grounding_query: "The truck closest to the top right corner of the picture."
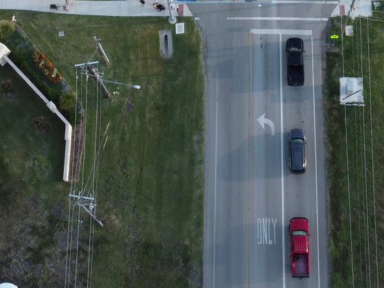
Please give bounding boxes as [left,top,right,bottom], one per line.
[284,38,306,88]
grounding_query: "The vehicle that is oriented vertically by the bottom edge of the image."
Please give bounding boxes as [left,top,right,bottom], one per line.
[287,217,311,278]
